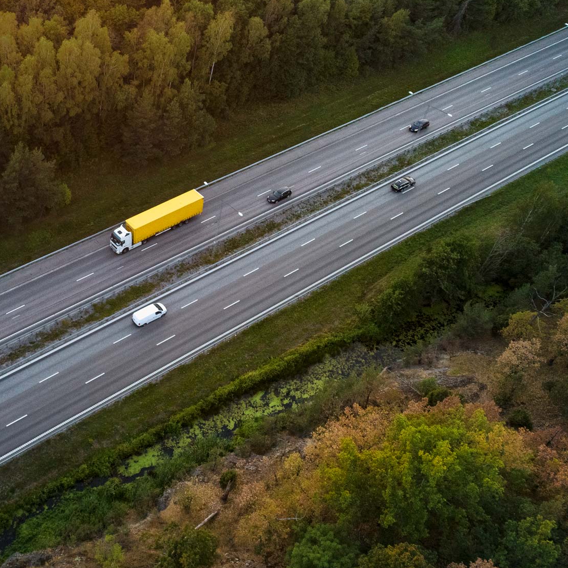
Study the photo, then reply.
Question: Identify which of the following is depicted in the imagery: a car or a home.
car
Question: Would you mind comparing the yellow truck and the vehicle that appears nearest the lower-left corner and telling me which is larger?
the truck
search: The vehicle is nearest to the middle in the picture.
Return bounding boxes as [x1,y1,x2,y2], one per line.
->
[267,187,292,205]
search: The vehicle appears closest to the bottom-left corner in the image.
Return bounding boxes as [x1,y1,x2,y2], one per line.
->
[133,302,169,326]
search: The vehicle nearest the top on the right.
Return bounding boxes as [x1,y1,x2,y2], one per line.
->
[408,118,431,133]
